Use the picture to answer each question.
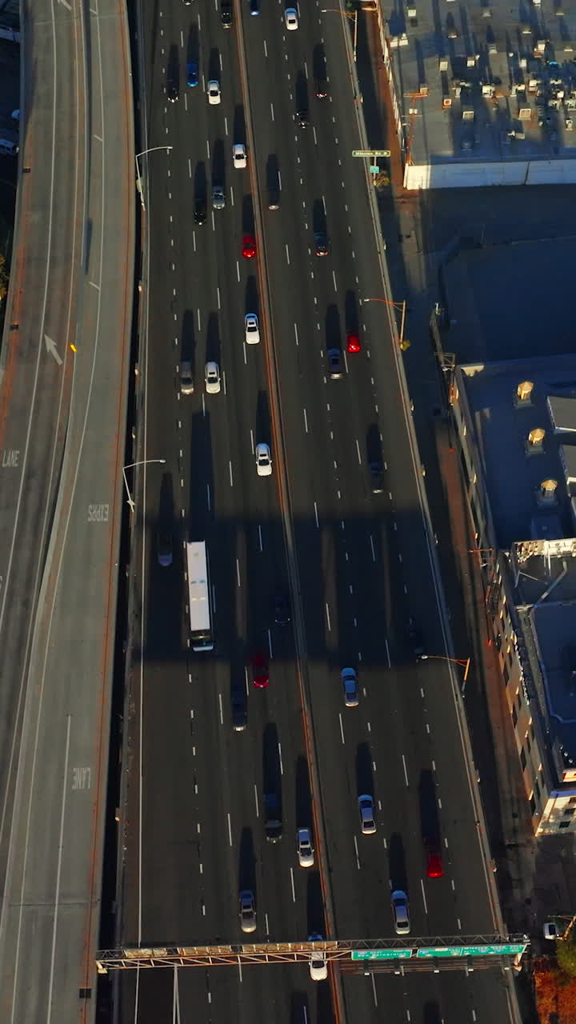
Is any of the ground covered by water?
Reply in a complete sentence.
No, there is no water in the image.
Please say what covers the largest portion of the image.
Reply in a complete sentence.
The largest share of the image is taken up by paved ground.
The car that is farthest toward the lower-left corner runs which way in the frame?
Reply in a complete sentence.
The car that is farthest toward the lower-left corner has been laid out from top to bottom relative to the frame.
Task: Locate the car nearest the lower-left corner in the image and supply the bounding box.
[238,889,259,935]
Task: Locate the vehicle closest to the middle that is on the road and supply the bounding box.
[256,444,273,476]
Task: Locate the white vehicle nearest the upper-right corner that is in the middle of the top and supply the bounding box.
[284,11,298,29]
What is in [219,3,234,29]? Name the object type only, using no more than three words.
vehicle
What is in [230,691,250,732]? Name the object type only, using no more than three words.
car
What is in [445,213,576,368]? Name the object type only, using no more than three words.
shed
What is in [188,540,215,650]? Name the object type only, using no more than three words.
bus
